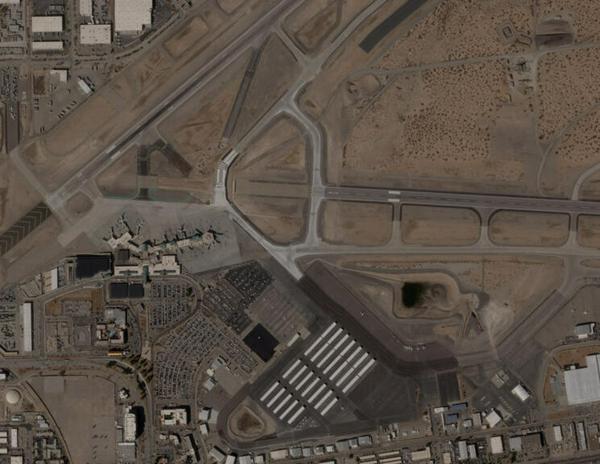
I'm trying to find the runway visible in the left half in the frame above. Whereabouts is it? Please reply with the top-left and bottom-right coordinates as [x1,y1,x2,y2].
[0,0,309,254]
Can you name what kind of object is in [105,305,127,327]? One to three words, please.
building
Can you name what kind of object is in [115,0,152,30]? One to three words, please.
building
